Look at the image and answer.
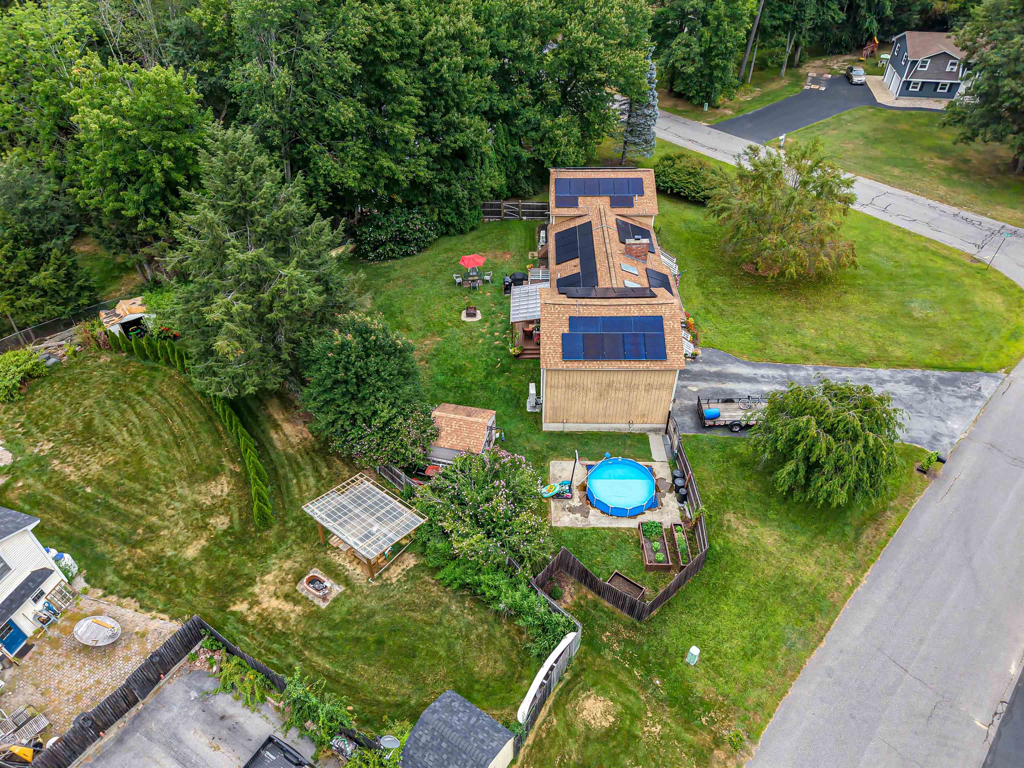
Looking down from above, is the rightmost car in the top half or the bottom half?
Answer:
top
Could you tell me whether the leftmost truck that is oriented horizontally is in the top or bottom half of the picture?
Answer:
bottom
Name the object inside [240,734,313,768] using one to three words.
truck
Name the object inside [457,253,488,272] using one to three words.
umbrella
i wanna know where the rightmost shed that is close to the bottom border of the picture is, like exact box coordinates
[391,691,517,768]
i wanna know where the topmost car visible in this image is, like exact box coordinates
[842,65,873,86]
